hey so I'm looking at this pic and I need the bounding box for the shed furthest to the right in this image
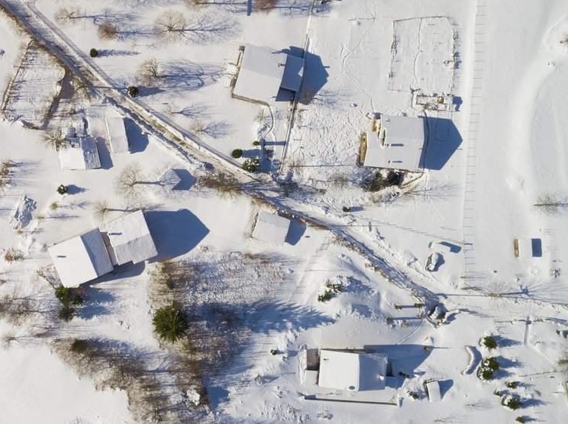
[516,239,534,257]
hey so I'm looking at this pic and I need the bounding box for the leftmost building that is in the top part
[59,137,102,169]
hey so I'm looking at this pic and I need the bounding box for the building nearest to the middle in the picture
[252,209,290,246]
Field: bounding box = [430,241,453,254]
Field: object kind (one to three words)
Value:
vehicle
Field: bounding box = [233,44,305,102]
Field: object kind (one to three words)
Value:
house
